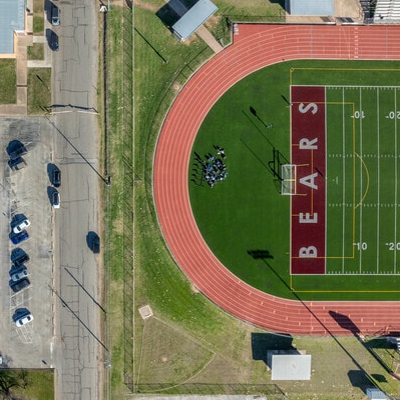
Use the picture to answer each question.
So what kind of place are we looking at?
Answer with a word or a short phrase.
sports ground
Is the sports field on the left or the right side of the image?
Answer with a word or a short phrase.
right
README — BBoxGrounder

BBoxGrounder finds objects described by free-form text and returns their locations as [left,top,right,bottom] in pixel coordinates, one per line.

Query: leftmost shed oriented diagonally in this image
[171,0,217,44]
